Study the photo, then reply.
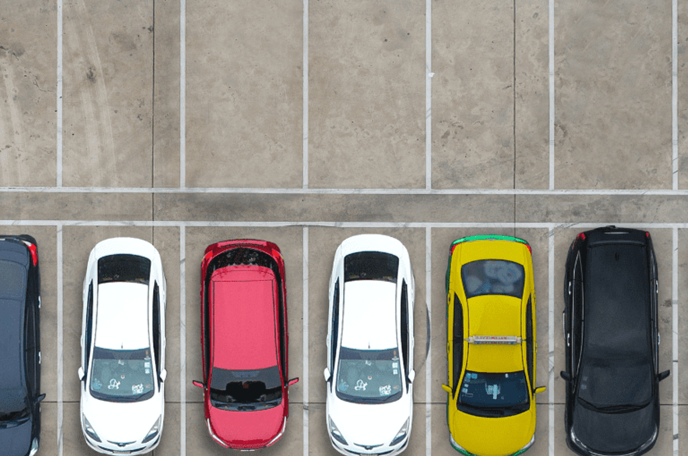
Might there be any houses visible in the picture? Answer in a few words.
No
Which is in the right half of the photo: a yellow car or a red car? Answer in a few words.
yellow car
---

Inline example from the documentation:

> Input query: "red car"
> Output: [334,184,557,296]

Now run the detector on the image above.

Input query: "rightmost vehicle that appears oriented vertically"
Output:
[558,224,671,456]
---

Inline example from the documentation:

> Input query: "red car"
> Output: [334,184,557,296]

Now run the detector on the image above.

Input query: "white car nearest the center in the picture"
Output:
[320,233,419,456]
